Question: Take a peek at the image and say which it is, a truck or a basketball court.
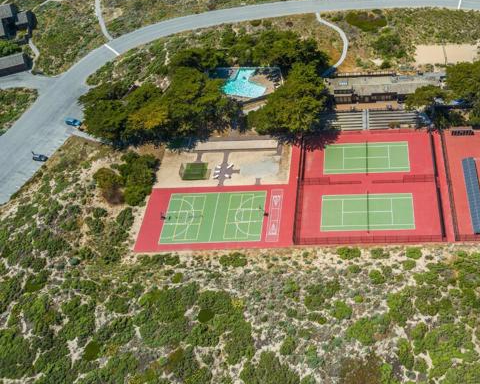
basketball court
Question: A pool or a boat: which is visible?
pool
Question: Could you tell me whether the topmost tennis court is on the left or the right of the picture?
right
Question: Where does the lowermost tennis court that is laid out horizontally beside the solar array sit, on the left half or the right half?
right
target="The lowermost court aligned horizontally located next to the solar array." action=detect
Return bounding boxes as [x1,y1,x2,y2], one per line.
[294,181,448,247]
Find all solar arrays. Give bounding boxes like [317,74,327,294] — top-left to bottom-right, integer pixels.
[461,156,480,235]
